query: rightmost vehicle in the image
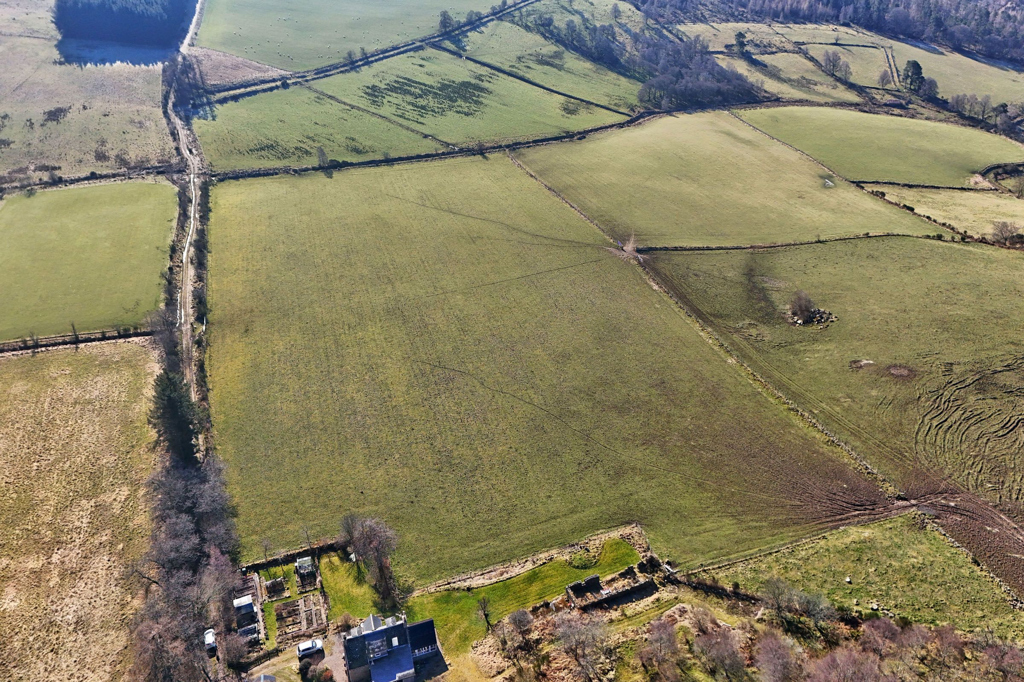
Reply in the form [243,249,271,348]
[296,644,322,660]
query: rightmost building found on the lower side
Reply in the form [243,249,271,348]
[340,608,442,682]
